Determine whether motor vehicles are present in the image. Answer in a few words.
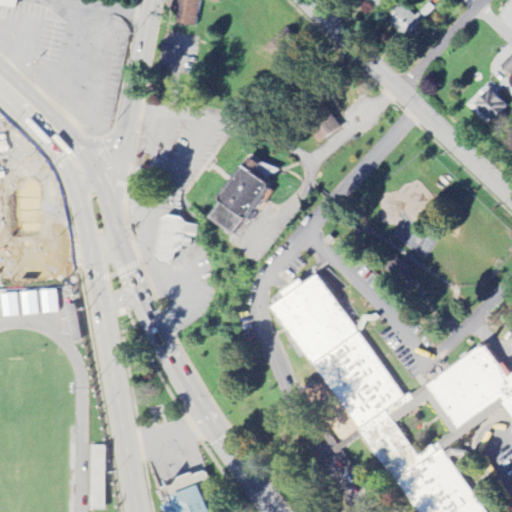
Yes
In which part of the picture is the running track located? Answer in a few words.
bottom left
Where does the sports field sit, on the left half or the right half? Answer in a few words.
left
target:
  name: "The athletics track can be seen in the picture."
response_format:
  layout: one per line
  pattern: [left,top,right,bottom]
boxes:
[0,314,90,512]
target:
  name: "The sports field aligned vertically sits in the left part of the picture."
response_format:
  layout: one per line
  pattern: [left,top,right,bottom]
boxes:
[0,330,75,512]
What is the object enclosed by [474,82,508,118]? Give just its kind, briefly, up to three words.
house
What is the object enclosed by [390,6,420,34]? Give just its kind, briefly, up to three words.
house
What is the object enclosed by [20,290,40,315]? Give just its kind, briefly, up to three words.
shed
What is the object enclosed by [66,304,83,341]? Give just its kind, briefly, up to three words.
building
